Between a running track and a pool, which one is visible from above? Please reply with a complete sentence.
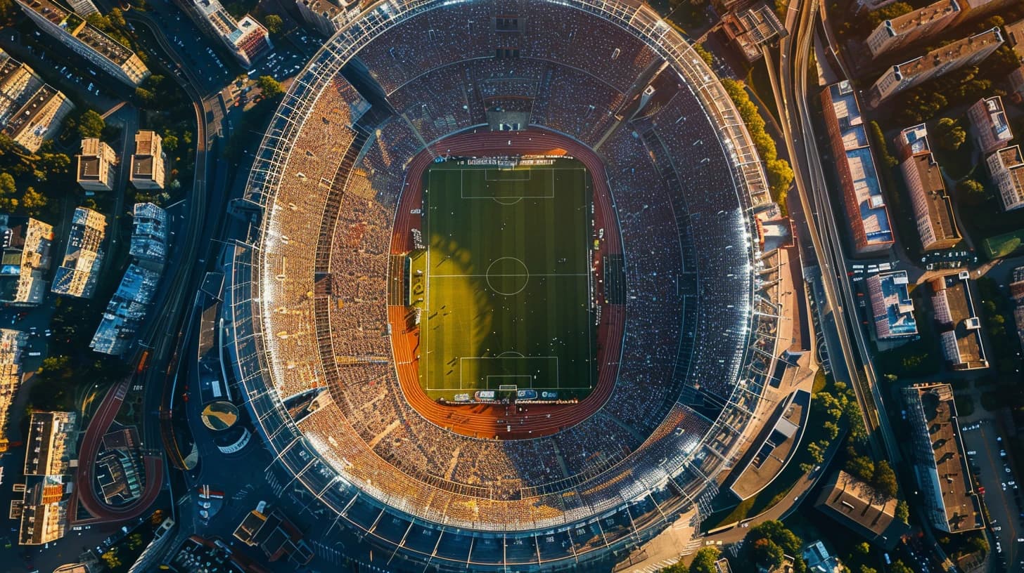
There is a running track in the scene.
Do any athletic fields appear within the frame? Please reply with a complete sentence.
Yes, this view includes an athletic field.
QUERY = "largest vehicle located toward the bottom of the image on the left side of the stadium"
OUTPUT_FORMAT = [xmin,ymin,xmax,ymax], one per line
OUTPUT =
[137,351,151,374]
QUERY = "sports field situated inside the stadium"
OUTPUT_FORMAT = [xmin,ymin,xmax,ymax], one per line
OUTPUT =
[426,167,591,390]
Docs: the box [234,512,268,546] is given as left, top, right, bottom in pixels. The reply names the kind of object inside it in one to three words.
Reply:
house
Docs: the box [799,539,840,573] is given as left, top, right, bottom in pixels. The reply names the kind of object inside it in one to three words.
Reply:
house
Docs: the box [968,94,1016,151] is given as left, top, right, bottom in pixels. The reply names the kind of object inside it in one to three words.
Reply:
building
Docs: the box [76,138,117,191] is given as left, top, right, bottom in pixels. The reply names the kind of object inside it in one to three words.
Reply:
building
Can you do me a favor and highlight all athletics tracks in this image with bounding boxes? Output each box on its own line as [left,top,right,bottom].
[389,132,626,439]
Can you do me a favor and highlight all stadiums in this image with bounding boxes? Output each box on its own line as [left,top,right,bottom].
[226,0,786,573]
